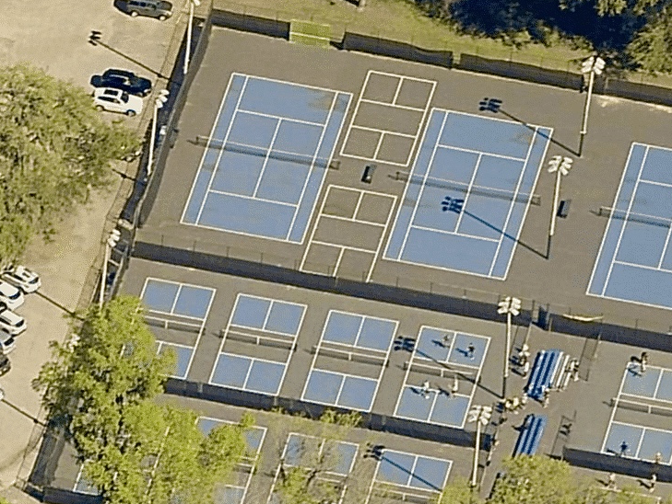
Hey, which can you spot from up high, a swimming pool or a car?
car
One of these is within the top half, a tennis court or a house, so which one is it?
tennis court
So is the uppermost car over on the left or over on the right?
left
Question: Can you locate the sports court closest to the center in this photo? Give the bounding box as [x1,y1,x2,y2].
[301,185,395,282]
